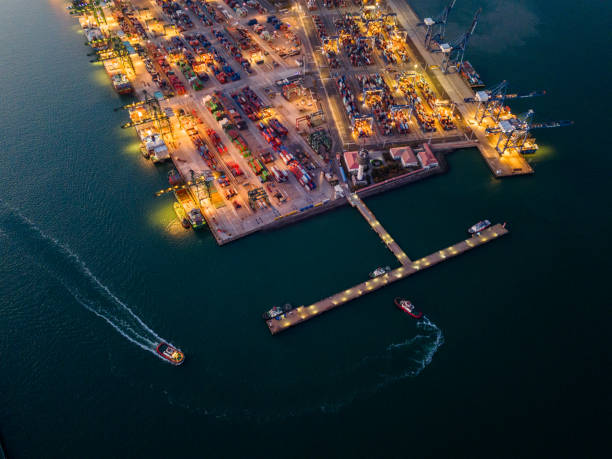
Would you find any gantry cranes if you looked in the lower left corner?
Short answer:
No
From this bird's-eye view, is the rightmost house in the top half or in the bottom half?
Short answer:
top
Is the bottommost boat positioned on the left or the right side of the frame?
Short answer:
left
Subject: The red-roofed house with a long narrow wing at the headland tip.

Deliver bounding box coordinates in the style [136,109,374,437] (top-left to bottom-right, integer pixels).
[418,143,440,170]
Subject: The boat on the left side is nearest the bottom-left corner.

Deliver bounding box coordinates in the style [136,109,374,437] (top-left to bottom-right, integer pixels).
[153,339,184,363]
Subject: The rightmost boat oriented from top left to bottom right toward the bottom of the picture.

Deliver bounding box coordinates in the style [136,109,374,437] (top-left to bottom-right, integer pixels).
[396,295,425,320]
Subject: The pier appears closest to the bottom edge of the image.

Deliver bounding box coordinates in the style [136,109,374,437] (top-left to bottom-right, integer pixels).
[266,197,508,335]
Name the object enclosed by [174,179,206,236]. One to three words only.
ship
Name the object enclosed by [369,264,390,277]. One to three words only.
boat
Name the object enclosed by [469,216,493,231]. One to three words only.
ship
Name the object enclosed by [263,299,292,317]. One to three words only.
boat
